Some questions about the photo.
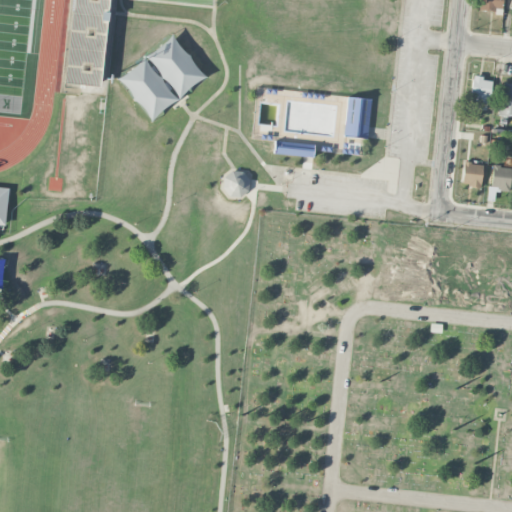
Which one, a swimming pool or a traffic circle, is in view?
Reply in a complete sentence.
The image shows a swimming pool.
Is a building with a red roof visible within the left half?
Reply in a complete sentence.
No, no building with a red roof is visible within the left half.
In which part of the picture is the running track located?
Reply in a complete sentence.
Look in the top left portion of the view to spot the running track.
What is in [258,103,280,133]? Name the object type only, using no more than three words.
swimming pool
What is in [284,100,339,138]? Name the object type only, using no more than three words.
swimming pool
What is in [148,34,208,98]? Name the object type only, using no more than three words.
building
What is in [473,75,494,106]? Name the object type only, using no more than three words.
house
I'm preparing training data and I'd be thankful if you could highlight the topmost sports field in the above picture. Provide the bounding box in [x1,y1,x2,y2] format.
[0,0,44,118]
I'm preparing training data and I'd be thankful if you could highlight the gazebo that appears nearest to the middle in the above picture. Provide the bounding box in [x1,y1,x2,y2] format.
[220,168,253,200]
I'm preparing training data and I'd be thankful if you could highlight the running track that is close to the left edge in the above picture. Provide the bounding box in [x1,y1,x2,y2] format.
[0,0,69,172]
